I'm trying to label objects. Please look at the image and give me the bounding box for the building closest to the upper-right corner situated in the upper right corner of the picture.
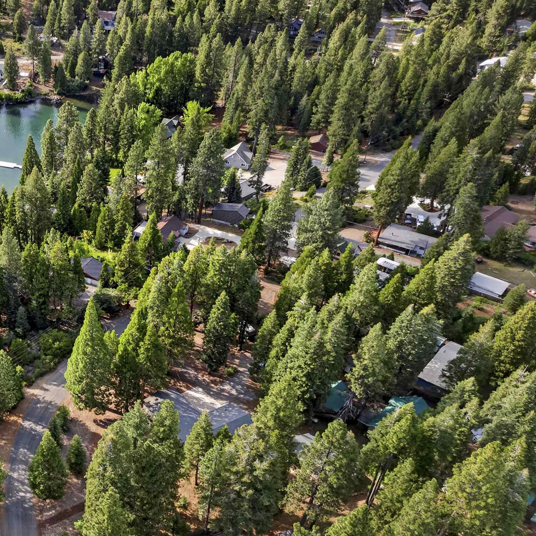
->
[507,23,536,39]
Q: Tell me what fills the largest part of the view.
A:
trees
